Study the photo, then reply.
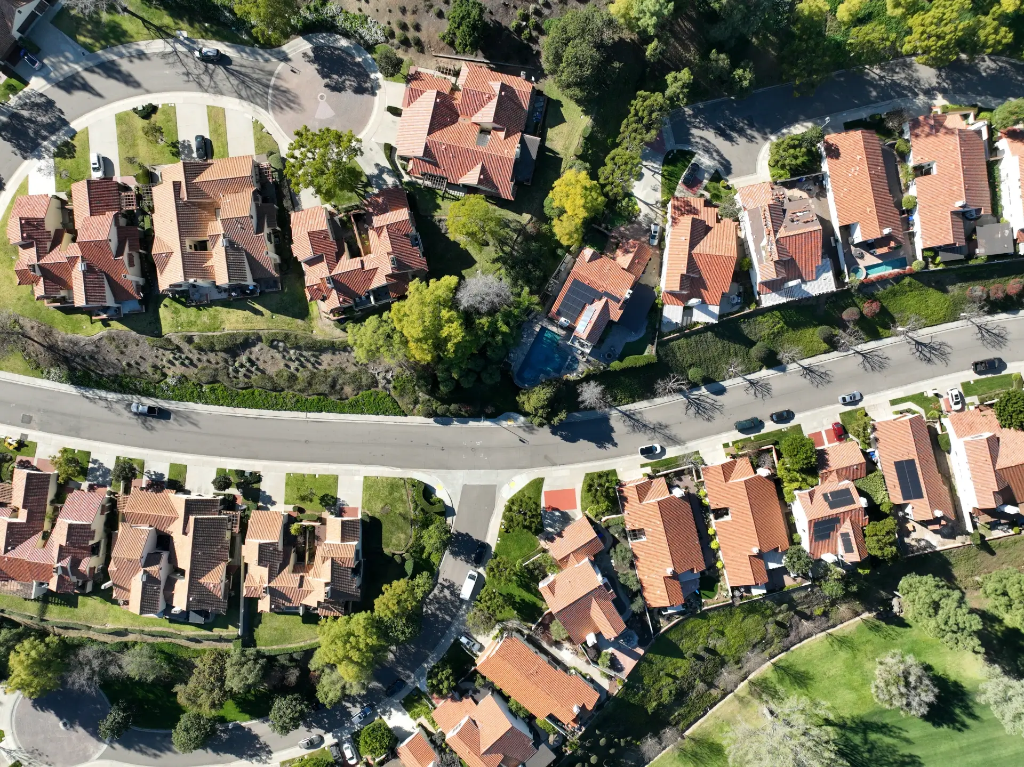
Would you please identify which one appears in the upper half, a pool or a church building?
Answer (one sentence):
Visible in the upper half is a pool.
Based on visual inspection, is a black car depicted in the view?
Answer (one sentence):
Yes, there is a black car in the image.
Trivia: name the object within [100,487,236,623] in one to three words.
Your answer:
house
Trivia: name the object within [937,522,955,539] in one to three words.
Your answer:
umbrella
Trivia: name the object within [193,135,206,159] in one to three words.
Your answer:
vehicle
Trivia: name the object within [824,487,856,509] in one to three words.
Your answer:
solar panel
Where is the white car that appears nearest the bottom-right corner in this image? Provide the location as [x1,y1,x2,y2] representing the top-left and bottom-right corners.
[947,387,962,411]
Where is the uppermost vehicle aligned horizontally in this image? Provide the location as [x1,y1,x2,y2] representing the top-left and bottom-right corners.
[196,48,220,61]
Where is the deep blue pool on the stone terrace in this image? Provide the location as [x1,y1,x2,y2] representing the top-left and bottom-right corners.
[517,325,570,386]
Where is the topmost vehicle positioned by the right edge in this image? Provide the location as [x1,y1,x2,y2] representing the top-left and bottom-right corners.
[971,358,1001,371]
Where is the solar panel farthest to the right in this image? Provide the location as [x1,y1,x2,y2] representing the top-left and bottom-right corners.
[894,460,924,501]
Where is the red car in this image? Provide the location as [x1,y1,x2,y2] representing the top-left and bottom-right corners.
[831,421,846,444]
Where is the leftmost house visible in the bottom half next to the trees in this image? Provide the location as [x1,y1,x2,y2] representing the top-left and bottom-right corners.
[0,468,116,598]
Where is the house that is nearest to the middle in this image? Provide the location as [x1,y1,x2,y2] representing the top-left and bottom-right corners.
[549,240,652,354]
